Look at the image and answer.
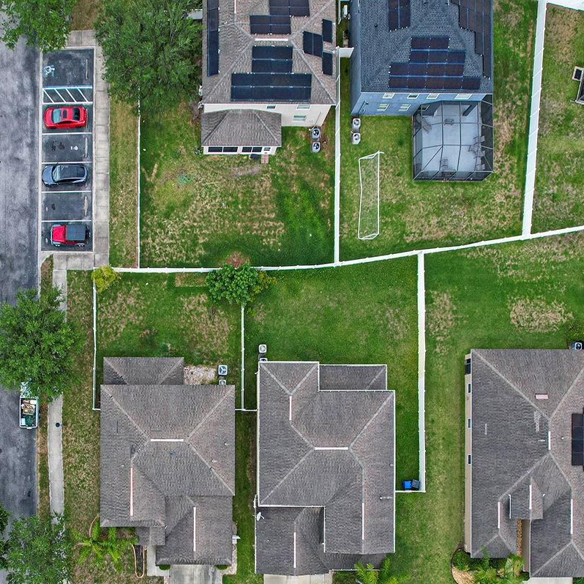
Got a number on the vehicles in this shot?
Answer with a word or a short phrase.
4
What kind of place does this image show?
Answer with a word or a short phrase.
residential area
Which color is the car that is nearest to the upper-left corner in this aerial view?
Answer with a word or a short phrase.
red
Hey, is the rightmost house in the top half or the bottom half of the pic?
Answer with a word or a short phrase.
bottom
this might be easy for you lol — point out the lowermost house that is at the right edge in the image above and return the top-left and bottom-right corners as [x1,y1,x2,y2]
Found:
[465,349,584,577]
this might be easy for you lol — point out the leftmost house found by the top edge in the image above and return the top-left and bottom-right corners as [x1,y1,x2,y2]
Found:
[201,0,336,163]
